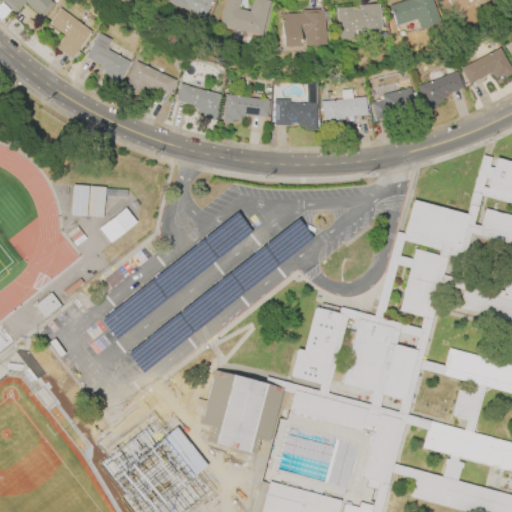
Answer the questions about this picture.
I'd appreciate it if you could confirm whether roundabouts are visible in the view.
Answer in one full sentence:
No, I can't see a single roundabout in this photo.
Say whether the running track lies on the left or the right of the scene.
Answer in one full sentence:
It is on the left.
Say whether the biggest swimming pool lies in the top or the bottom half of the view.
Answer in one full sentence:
Seen from above, the biggest swimming pool lies in the bottom half of the view.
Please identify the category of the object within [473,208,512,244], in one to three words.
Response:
building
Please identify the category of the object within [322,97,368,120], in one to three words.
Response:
house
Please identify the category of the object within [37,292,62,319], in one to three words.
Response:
building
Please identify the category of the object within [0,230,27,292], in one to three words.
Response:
sports field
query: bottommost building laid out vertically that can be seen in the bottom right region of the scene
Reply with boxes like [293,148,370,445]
[364,412,408,512]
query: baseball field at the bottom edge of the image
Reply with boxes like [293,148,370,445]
[0,376,116,512]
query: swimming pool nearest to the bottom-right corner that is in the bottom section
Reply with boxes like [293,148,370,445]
[264,412,378,506]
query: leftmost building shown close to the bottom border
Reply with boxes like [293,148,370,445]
[102,424,226,512]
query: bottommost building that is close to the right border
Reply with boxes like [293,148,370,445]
[410,468,512,512]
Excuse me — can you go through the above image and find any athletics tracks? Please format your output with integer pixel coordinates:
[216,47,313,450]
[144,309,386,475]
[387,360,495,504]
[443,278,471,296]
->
[0,145,80,320]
